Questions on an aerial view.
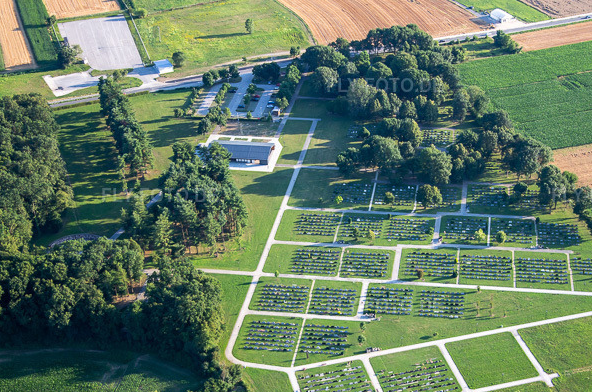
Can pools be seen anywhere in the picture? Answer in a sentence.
No, no pool can be seen from above.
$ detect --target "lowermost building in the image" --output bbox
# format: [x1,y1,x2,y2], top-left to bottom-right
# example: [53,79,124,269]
[213,135,276,165]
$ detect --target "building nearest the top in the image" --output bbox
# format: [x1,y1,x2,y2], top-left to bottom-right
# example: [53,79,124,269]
[484,8,517,26]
